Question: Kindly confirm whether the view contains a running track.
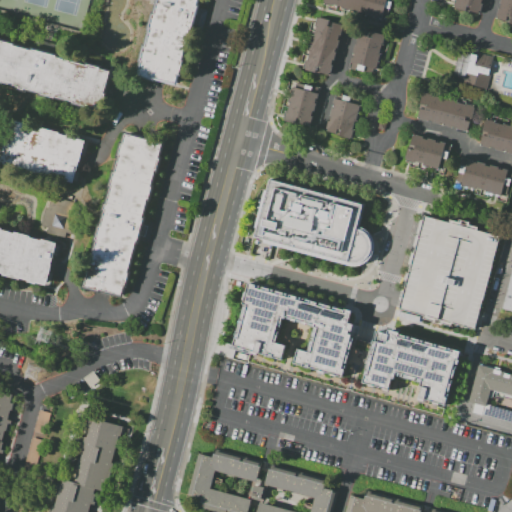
No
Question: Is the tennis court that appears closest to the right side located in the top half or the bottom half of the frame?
top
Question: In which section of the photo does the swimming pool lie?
top right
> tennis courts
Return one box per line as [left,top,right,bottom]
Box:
[46,0,91,30]
[0,0,50,20]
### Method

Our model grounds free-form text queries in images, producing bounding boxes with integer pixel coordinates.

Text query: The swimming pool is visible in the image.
[491,61,512,98]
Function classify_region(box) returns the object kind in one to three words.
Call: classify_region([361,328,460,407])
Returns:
building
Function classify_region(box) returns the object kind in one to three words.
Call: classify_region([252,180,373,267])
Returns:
building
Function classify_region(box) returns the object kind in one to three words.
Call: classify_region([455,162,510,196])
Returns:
house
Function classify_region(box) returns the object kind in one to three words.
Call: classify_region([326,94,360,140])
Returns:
house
